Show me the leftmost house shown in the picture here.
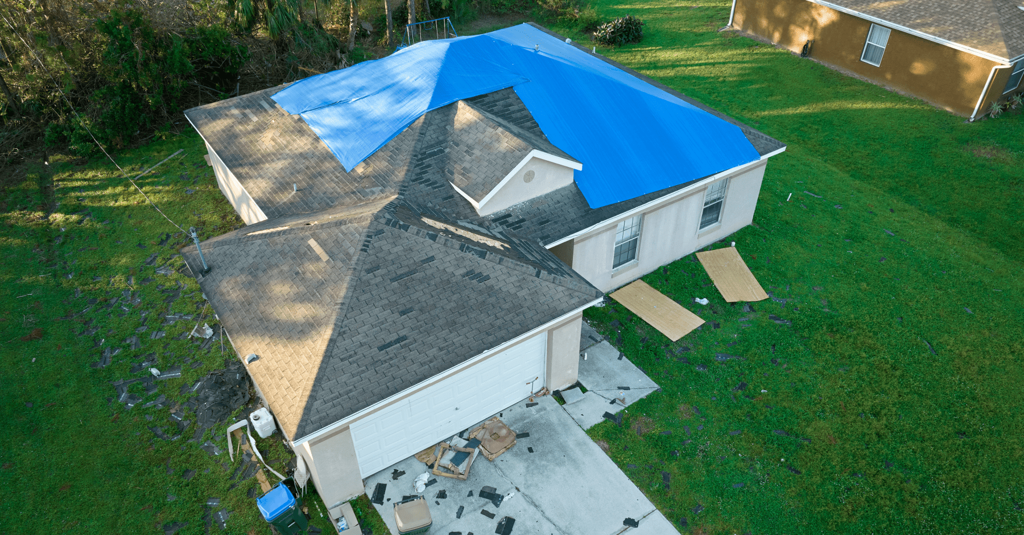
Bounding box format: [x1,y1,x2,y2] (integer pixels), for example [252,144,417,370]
[178,21,787,511]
